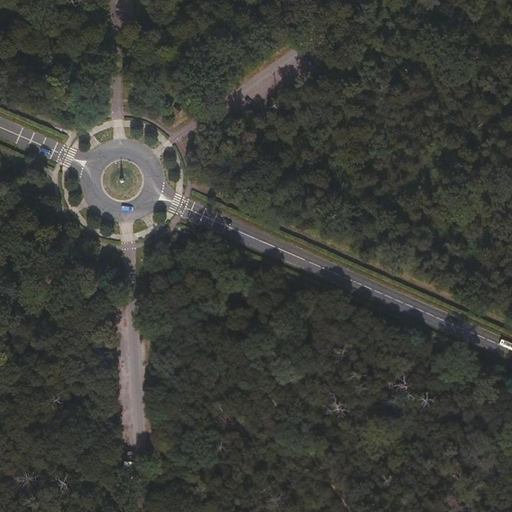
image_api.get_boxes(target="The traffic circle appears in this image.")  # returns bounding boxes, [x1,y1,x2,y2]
[80,139,164,222]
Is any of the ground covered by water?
No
